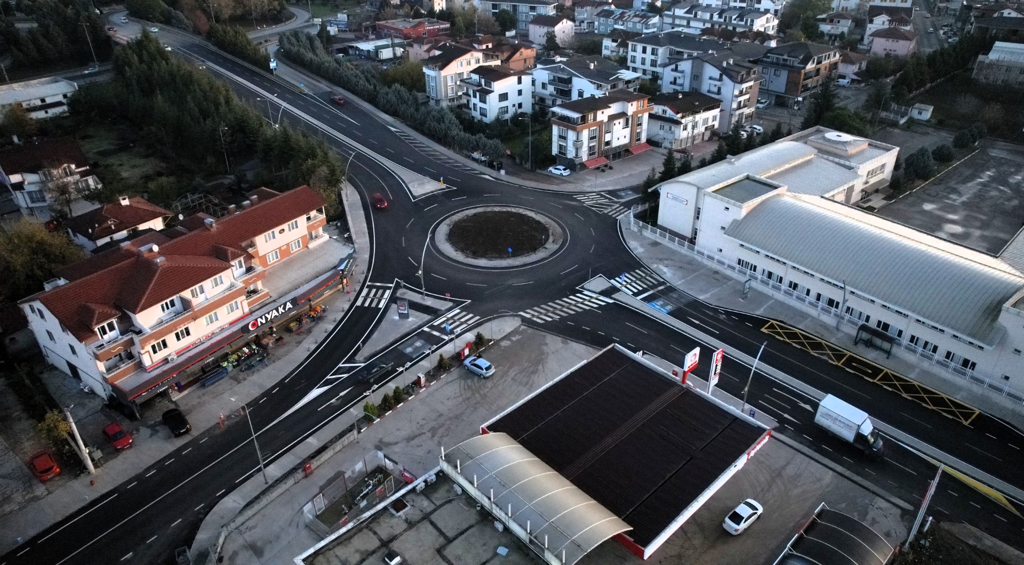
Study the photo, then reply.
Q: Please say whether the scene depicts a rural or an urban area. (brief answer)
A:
urban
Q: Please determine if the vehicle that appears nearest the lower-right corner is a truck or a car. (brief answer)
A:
truck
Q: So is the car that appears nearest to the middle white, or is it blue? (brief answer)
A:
blue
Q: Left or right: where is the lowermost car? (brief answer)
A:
right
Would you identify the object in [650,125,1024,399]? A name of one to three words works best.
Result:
building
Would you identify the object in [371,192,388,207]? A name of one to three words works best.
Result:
car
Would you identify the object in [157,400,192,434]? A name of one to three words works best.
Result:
car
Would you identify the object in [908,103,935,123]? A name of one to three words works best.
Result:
shed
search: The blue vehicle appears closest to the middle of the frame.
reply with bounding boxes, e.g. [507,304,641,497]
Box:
[461,356,498,379]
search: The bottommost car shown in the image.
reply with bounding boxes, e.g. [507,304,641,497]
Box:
[721,496,766,534]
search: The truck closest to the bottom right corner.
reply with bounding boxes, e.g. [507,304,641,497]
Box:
[819,400,890,461]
